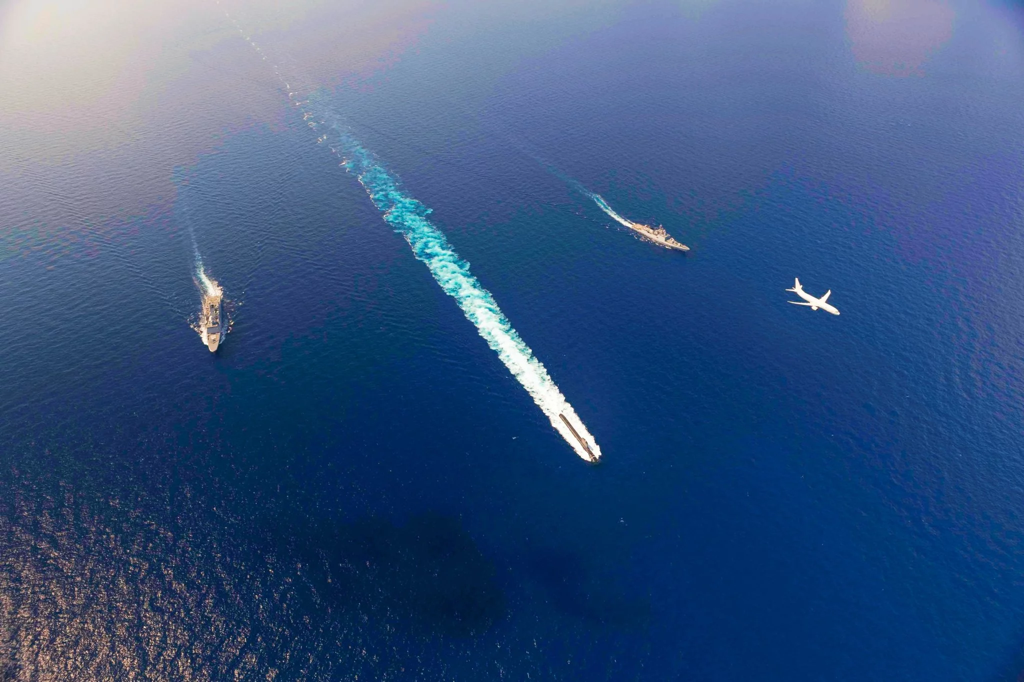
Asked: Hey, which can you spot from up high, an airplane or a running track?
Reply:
airplane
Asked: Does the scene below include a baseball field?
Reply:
No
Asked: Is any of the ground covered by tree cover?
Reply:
No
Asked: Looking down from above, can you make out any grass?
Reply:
No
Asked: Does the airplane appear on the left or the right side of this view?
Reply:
right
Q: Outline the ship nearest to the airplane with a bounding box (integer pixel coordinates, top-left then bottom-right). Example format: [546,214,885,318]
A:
[631,220,690,253]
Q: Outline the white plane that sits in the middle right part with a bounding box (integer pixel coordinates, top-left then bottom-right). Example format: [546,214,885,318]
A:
[786,278,840,315]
